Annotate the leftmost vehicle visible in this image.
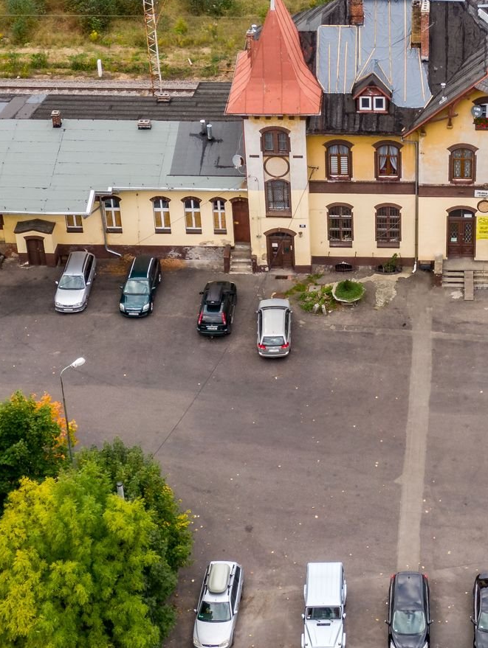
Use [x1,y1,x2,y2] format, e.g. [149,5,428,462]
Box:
[55,250,102,311]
